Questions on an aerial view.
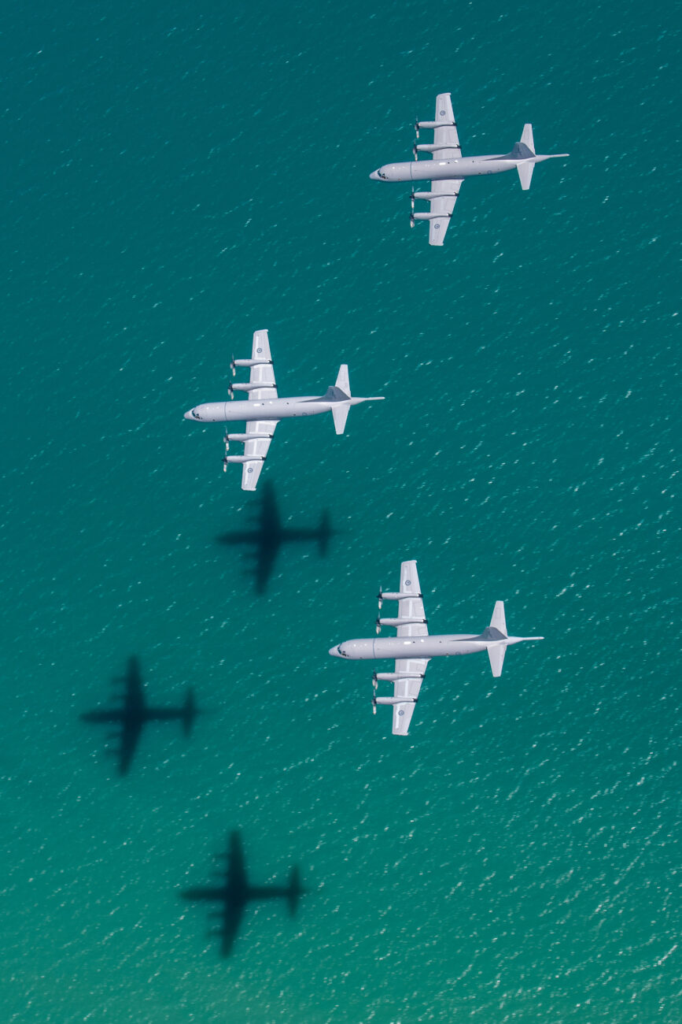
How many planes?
three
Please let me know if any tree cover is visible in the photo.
No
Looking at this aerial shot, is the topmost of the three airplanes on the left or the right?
right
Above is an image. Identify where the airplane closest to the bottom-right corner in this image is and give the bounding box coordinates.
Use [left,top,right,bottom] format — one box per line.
[329,558,544,738]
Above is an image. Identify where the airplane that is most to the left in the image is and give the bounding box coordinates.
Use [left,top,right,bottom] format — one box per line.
[185,329,384,492]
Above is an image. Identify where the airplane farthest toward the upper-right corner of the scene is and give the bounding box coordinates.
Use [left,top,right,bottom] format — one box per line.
[370,92,569,246]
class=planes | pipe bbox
[370,92,569,246]
[185,329,384,492]
[329,558,544,738]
